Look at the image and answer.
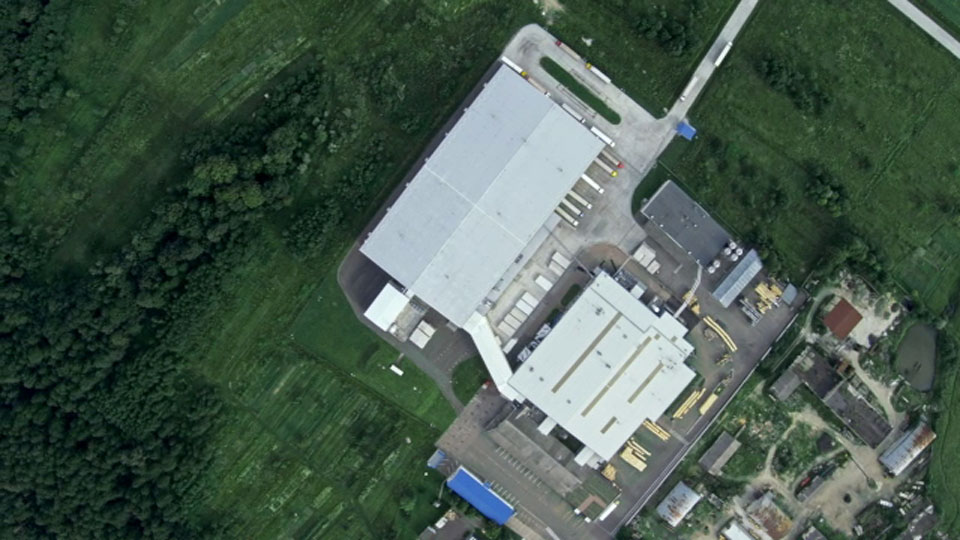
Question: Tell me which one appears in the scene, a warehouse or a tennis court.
warehouse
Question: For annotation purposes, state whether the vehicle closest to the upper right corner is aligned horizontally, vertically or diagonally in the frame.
diagonally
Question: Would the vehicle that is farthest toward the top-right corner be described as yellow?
No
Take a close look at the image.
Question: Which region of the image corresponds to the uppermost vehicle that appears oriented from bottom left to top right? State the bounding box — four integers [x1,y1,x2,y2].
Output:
[713,41,734,67]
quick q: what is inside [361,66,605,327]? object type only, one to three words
warehouse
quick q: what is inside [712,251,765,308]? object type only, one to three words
shed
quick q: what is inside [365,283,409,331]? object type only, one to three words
building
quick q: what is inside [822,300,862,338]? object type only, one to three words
house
